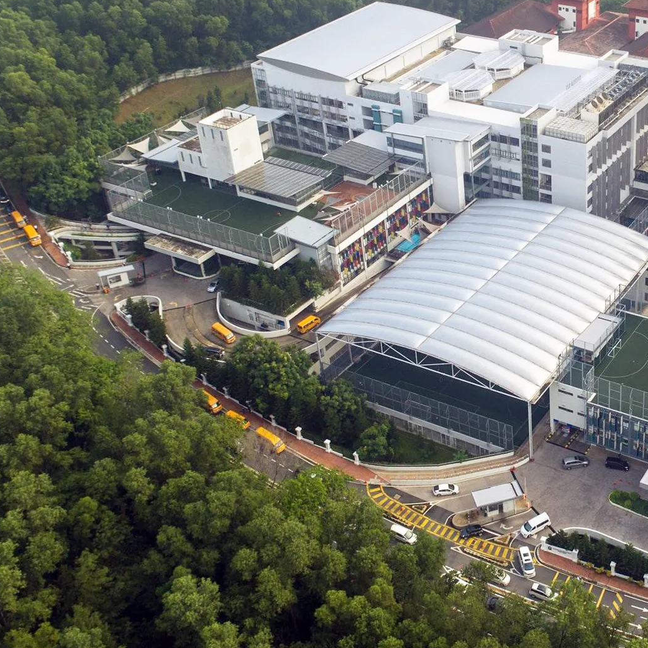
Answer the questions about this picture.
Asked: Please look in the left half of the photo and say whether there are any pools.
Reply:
No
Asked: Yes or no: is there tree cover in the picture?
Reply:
Yes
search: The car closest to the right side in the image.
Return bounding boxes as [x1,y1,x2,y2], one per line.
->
[605,453,632,471]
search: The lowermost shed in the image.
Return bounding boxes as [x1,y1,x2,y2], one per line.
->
[472,480,523,521]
